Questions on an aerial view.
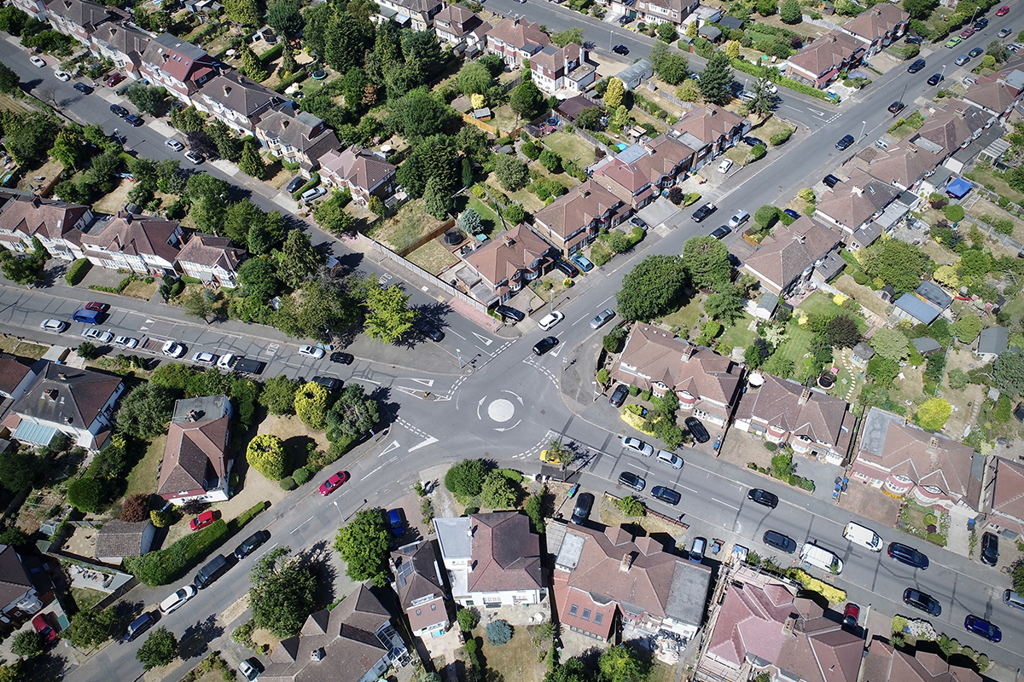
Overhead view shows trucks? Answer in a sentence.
Yes, the photo shows a truck.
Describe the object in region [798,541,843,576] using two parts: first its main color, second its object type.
white van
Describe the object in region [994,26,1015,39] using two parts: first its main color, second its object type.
gray vehicle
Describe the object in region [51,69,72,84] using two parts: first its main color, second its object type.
white car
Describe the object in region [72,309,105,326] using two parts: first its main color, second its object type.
blue vehicle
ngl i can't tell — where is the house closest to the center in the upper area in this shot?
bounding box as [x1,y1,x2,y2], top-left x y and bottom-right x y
[455,222,554,313]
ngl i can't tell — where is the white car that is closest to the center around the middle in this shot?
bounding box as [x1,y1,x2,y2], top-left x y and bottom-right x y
[537,310,565,331]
